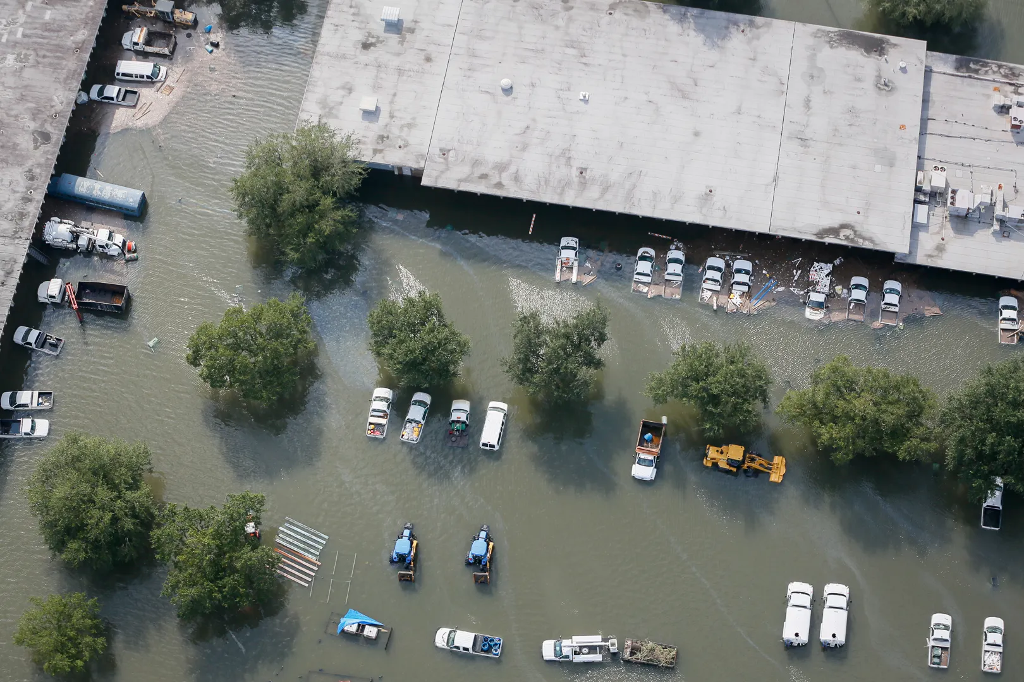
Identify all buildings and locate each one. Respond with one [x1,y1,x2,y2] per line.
[0,0,111,358]
[298,0,928,256]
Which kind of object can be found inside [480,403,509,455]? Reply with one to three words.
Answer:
van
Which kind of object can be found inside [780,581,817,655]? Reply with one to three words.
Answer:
truck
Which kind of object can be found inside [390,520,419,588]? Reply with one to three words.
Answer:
work vehicle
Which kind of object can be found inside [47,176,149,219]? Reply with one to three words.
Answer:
bus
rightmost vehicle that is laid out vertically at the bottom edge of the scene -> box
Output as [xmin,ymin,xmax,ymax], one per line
[980,616,1009,677]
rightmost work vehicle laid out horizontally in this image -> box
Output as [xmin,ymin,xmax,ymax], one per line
[701,444,785,488]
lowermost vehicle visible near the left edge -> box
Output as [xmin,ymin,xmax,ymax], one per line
[0,416,52,439]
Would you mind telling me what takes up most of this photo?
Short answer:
water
